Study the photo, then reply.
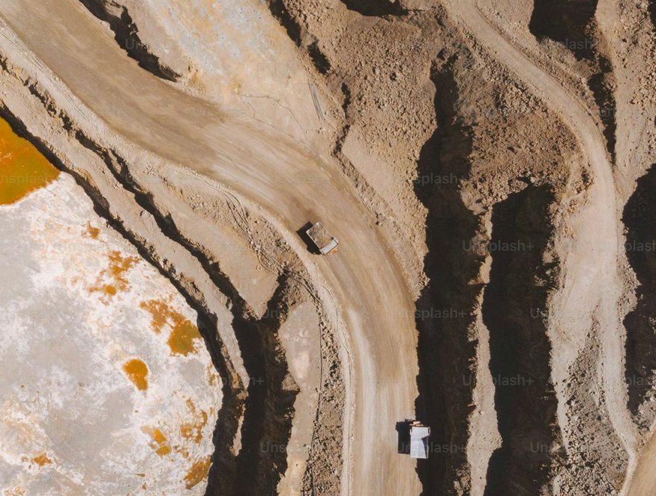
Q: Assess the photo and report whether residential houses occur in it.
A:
No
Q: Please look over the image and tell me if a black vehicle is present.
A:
No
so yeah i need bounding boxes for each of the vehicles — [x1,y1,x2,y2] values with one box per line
[404,421,426,456]
[307,221,339,256]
